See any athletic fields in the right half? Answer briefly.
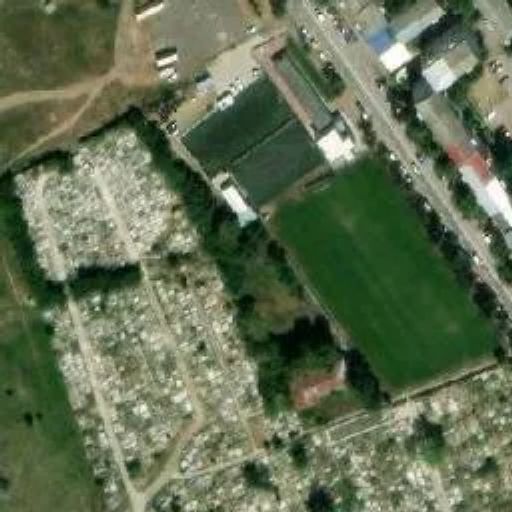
Yes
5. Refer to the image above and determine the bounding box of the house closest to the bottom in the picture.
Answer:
[290,376,326,408]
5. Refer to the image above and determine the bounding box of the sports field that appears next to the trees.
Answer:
[272,158,502,400]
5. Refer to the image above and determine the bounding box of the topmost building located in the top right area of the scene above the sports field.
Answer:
[390,0,446,40]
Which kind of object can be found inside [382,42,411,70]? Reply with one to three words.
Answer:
building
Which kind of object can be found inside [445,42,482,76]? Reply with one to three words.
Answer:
house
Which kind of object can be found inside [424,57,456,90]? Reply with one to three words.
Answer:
building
